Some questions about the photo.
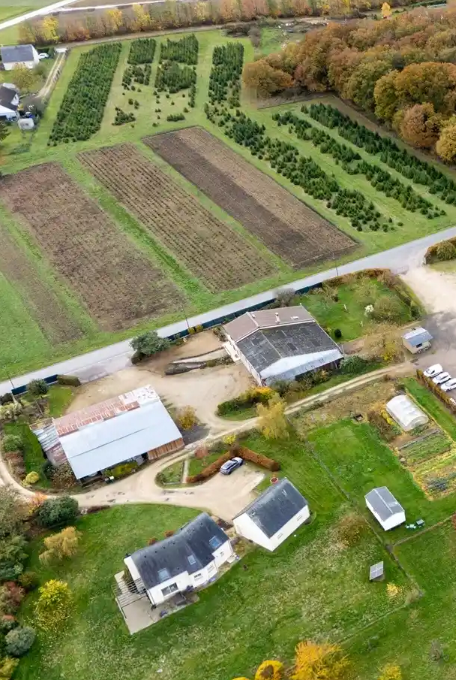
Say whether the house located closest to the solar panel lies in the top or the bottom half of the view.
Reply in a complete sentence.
Seen from above, the house located closest to the solar panel lies in the bottom half of the view.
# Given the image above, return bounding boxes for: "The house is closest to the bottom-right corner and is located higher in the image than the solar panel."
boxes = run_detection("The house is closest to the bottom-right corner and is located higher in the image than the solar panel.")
[364,486,406,531]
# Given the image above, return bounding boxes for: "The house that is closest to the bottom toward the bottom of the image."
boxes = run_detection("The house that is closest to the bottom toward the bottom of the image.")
[133,518,233,604]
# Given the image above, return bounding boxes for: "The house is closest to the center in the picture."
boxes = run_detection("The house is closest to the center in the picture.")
[209,300,352,396]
